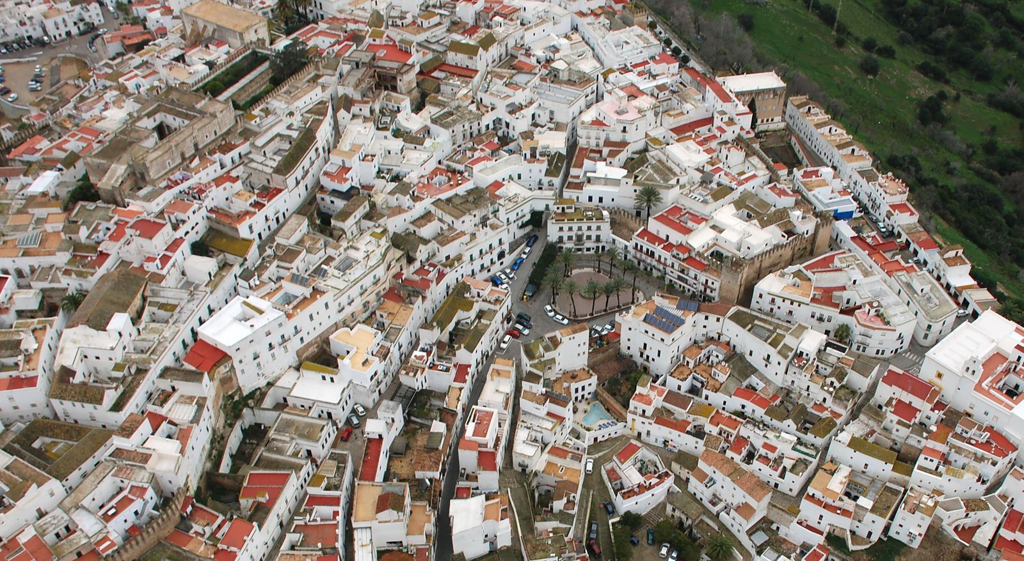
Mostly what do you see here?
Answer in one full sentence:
Most of the picture is covered by buildings.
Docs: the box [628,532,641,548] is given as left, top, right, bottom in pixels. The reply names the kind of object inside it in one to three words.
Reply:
vehicle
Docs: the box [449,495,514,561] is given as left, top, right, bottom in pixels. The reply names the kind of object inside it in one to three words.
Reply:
house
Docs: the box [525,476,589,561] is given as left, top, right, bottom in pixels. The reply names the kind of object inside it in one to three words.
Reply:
house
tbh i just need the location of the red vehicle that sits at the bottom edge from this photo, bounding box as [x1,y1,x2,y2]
[589,539,602,555]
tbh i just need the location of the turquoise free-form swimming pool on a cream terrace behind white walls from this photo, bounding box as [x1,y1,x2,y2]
[571,392,628,443]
